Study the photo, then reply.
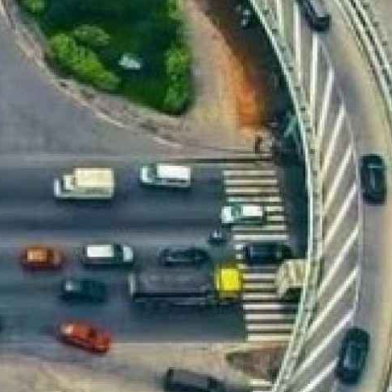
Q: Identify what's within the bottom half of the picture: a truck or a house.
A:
truck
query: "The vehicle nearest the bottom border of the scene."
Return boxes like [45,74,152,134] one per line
[165,367,223,392]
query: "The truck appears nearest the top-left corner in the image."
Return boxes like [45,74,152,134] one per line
[52,169,117,200]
